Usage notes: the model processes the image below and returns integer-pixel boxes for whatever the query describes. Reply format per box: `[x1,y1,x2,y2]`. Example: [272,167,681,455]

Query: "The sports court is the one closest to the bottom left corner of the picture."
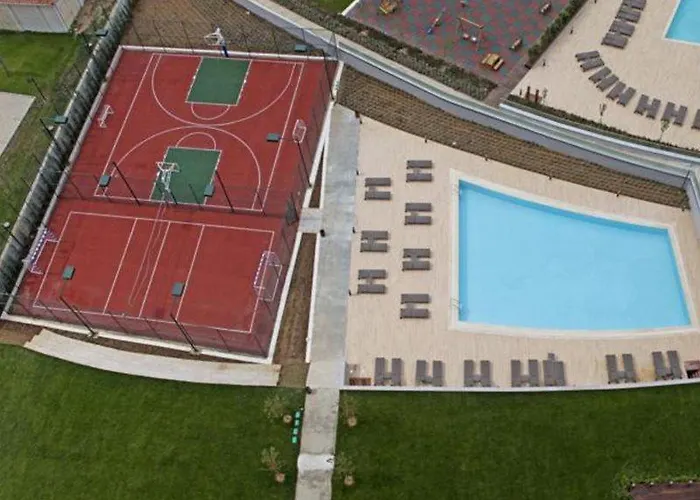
[8,198,296,352]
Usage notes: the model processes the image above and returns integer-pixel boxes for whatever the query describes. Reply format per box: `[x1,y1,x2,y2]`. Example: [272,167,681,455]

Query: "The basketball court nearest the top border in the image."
[58,51,335,220]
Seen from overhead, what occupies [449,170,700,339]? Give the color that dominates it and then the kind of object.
blue swimming pool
